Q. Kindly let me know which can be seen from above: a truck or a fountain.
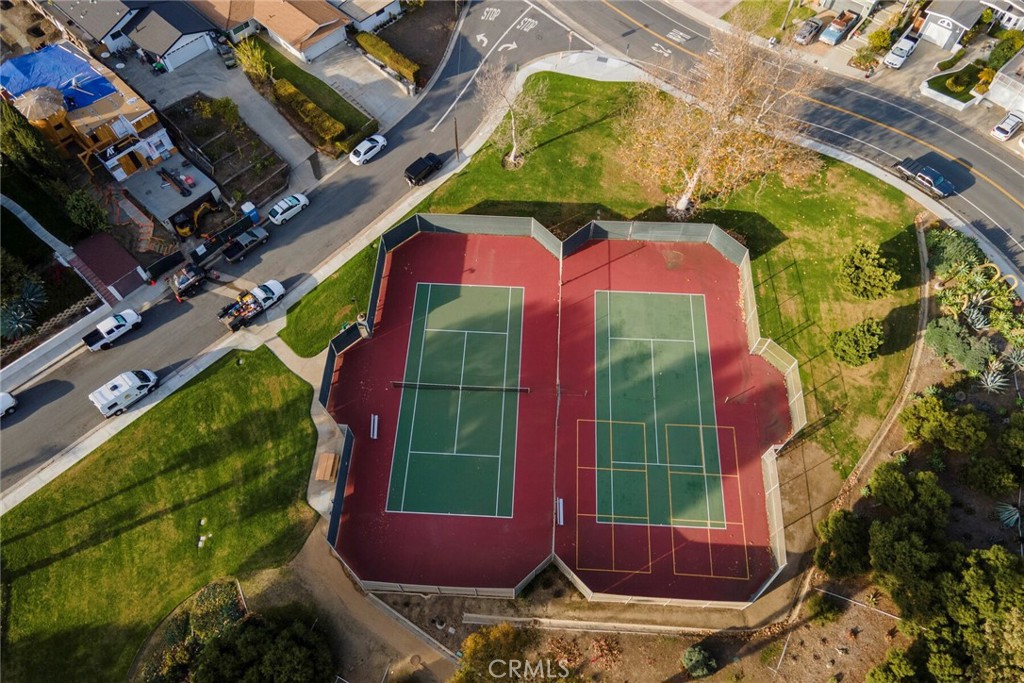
truck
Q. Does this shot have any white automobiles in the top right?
Yes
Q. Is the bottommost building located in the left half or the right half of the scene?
left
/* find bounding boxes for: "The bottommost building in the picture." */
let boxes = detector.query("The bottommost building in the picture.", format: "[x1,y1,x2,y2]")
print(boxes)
[74,233,151,299]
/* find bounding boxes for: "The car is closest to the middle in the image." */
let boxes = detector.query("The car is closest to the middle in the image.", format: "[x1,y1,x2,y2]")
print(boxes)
[405,155,441,185]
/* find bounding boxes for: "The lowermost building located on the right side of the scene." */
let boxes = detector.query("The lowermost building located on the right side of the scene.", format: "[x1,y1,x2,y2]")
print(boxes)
[990,47,1024,111]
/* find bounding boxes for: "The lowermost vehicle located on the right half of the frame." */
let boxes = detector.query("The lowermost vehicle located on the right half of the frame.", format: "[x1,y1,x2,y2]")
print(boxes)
[898,155,960,199]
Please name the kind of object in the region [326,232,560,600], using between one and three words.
tennis court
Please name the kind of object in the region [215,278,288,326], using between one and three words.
truck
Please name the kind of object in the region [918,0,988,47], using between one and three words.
building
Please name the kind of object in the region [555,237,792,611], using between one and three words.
tennis court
